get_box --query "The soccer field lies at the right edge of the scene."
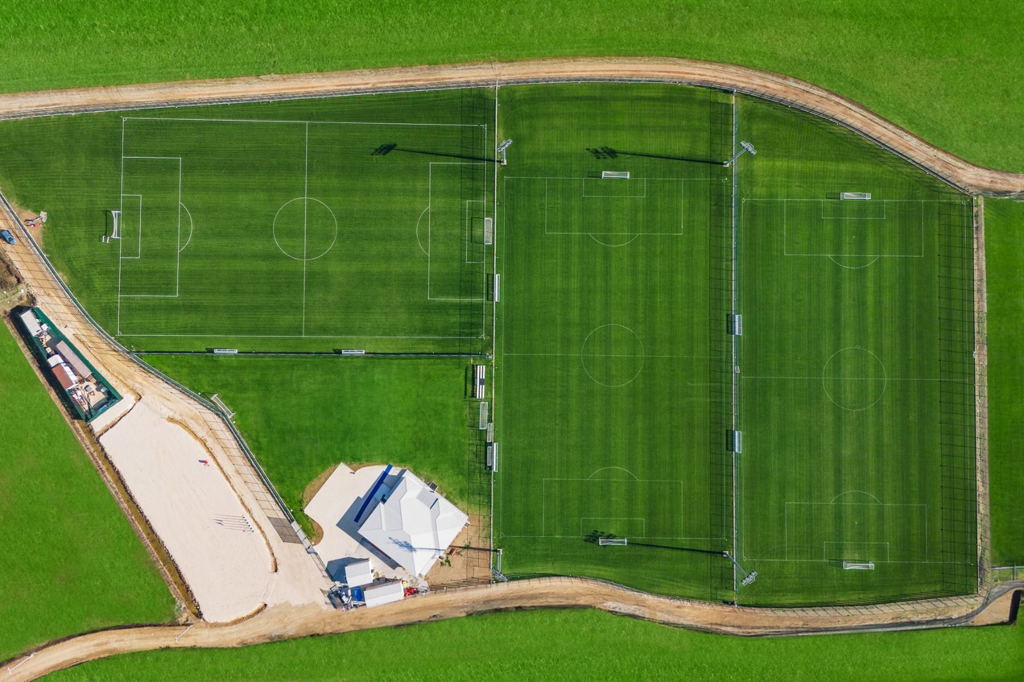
[734,91,977,606]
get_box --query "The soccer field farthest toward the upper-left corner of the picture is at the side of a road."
[0,86,496,355]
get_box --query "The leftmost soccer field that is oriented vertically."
[492,81,734,605]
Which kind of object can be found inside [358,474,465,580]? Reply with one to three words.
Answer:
building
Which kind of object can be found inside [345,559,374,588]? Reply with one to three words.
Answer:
shed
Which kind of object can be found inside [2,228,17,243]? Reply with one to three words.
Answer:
car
